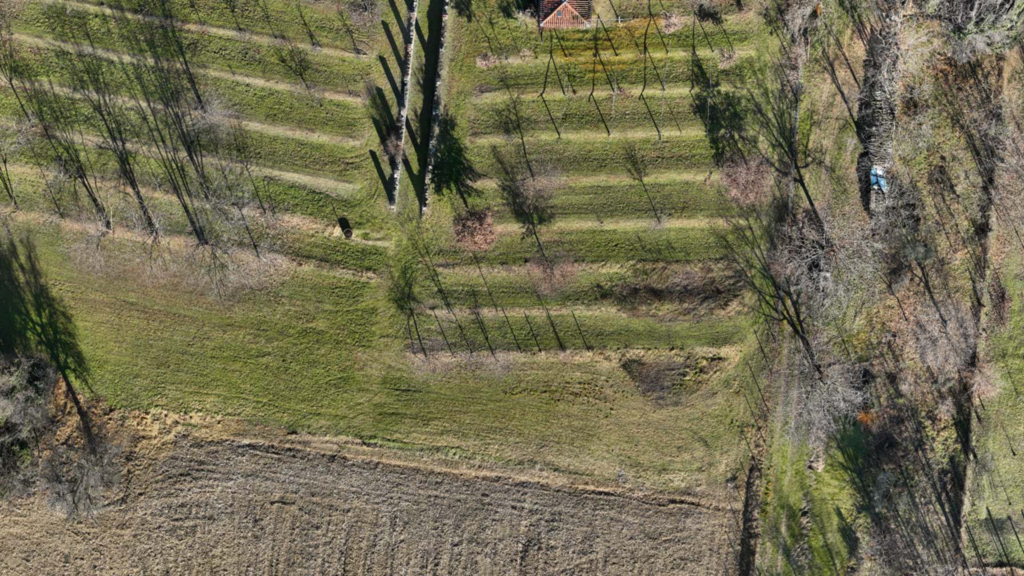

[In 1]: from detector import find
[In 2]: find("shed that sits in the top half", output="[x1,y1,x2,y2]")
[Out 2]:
[539,0,592,28]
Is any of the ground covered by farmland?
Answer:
Yes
